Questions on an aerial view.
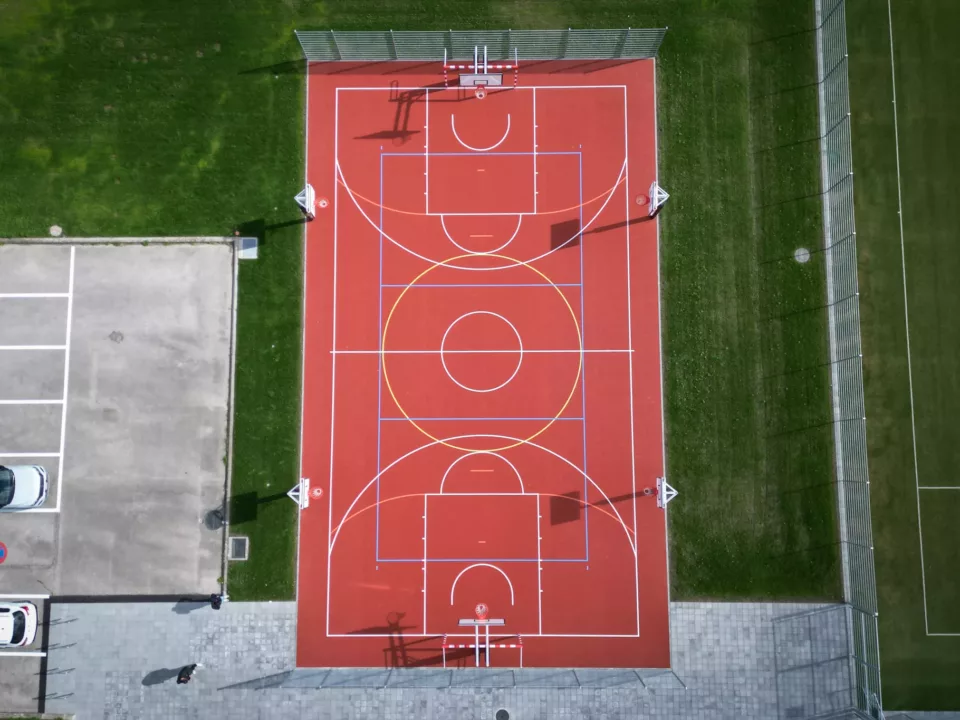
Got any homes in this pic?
No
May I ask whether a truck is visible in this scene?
No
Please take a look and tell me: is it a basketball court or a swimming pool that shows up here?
basketball court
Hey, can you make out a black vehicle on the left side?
No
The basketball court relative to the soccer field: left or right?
on the left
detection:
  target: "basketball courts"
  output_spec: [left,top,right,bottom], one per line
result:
[293,57,672,669]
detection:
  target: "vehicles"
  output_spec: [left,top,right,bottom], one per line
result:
[0,599,42,648]
[0,463,51,512]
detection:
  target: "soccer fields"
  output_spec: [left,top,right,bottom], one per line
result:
[820,0,960,712]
